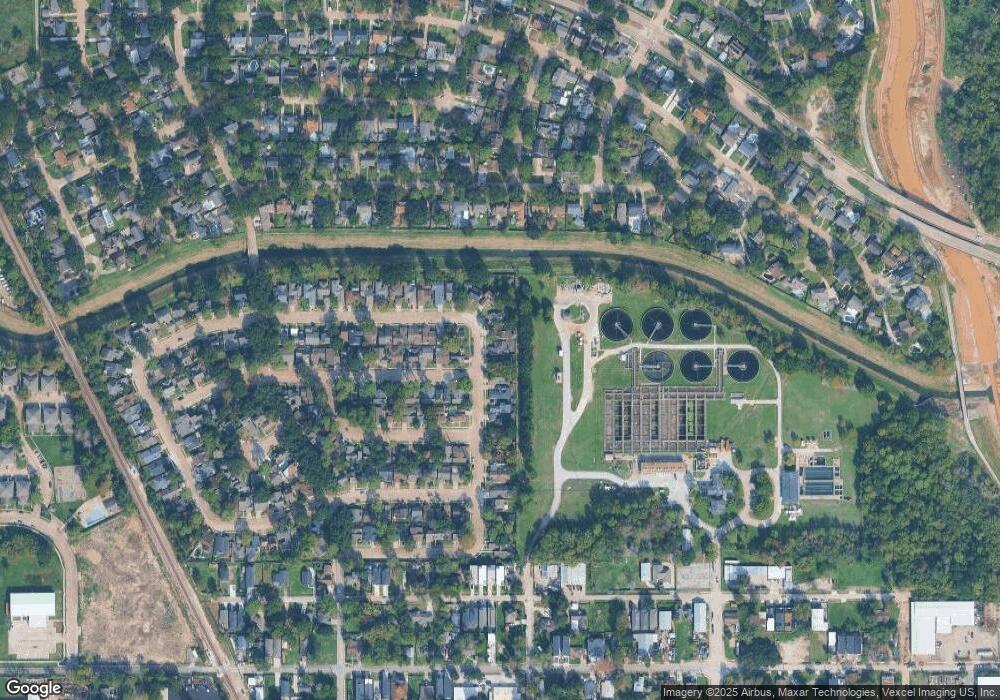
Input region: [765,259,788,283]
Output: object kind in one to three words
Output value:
house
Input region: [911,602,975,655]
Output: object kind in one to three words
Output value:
building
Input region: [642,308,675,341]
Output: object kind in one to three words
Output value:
storage tank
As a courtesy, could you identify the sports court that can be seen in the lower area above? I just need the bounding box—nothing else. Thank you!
[54,466,86,503]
